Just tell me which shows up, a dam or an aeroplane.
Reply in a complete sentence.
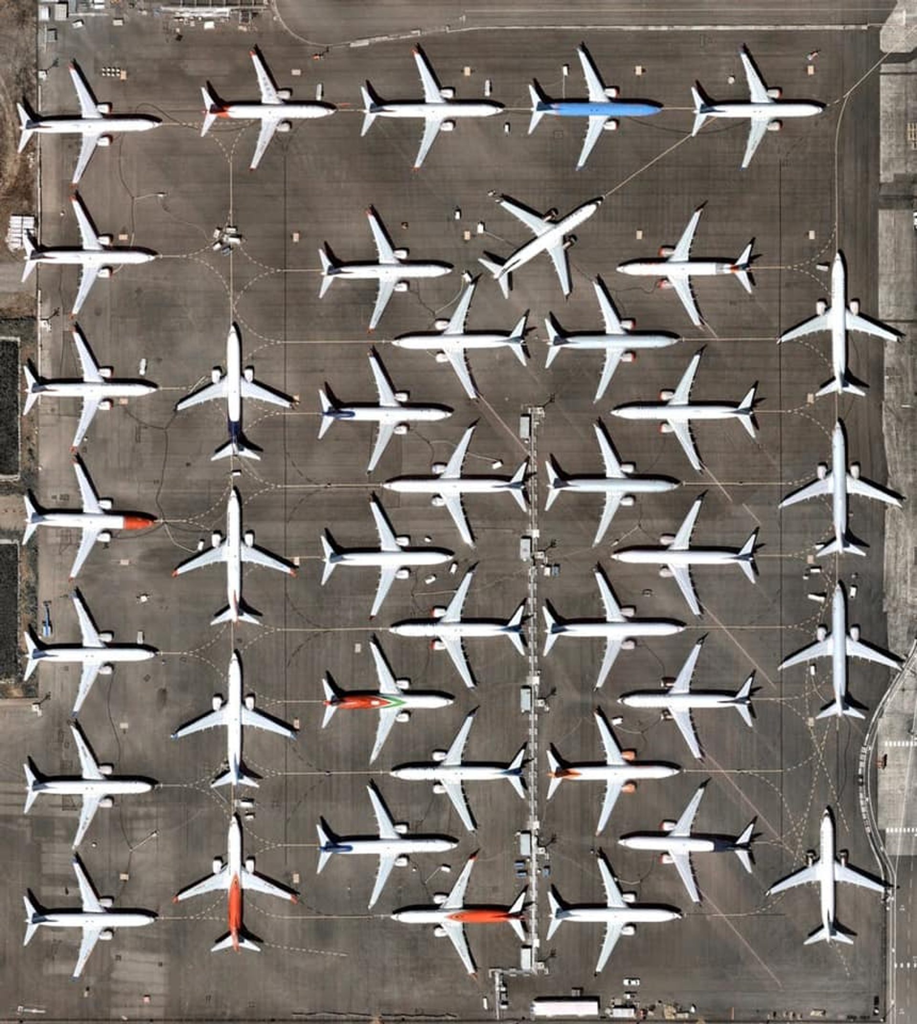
I can see an aeroplane in this picture.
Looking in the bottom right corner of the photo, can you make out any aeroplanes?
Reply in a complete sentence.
Yes, an aeroplane is visible in the bottom right corner of the photo.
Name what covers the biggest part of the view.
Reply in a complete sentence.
The largest share of the image is taken up by paved ground.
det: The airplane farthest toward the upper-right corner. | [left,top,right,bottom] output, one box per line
[691,49,825,172]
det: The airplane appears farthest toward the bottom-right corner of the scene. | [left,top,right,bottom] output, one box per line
[767,809,890,943]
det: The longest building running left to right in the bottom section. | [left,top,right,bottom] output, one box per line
[530,1002,598,1018]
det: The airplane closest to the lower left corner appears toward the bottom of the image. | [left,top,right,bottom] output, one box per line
[22,859,156,982]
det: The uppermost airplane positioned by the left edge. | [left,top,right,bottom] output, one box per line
[17,64,161,187]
